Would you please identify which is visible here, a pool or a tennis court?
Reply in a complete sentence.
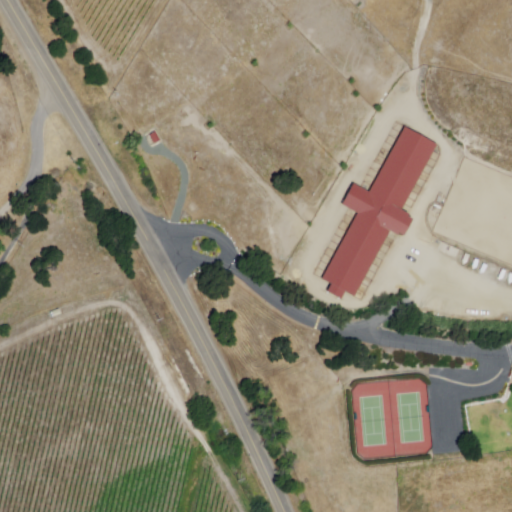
Looking from above, you can make out a tennis court.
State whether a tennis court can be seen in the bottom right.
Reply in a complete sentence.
Yes, in the bottom right there is a tennis court.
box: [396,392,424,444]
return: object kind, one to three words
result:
tennis court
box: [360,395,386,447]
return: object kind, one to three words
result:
tennis court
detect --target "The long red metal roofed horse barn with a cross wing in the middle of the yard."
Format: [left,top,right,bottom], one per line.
[323,125,436,298]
